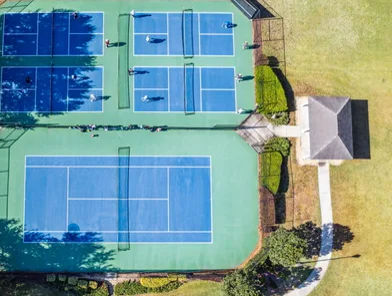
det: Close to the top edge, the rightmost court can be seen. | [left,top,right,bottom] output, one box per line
[133,12,235,56]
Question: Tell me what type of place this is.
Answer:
sports ground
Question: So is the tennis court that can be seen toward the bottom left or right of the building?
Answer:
left of it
